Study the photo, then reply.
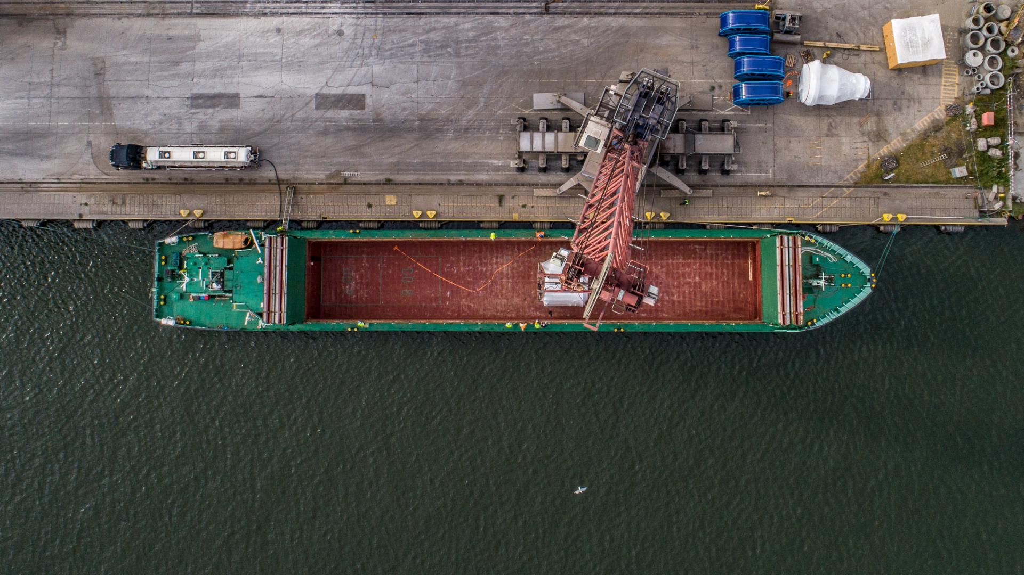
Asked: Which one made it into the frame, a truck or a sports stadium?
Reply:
truck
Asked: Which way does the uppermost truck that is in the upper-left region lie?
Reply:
from left to right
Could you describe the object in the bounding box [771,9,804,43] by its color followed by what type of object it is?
gray work vehicle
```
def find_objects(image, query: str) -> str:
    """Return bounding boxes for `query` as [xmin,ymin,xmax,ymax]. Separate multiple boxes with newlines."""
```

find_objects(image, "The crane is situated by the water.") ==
[510,65,742,331]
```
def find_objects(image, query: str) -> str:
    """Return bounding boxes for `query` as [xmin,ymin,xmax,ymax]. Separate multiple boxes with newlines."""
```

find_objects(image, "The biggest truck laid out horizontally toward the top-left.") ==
[108,140,259,173]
